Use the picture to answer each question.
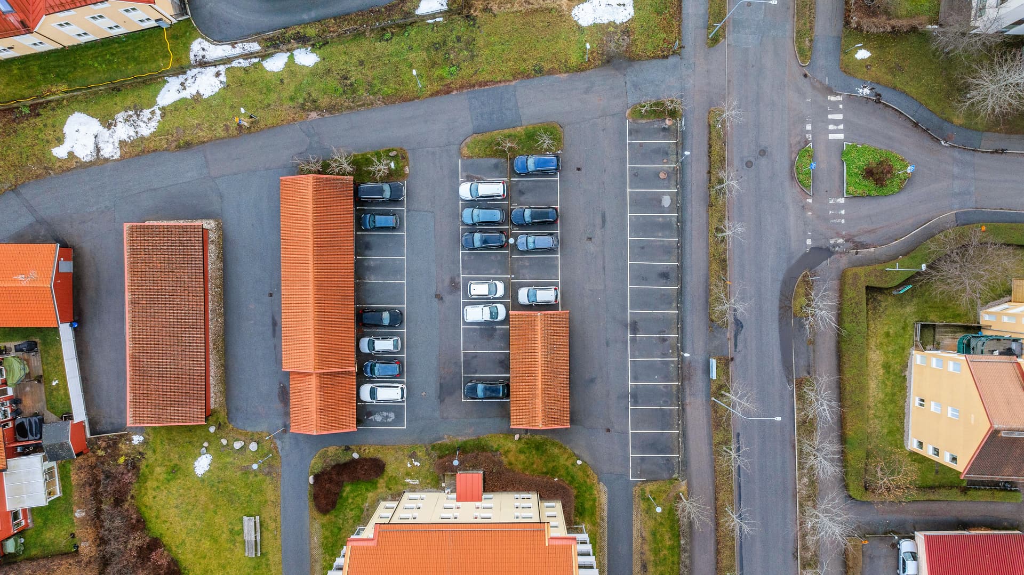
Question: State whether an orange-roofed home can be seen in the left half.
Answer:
Yes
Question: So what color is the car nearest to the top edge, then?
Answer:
blue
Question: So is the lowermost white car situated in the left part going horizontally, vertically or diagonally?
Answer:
horizontally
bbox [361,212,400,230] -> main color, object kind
blue car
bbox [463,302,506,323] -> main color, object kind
white vehicle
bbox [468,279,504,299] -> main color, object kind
white car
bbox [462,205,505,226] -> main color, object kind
blue car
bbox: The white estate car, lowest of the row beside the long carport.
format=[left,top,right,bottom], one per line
[359,383,407,405]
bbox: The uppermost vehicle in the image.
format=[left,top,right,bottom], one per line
[514,152,561,175]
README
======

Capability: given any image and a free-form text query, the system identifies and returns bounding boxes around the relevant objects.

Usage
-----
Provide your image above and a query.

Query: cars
[464,380,511,401]
[358,308,403,329]
[363,359,402,378]
[516,232,559,253]
[511,204,559,226]
[518,285,559,306]
[359,335,401,355]
[357,181,405,203]
[460,179,506,201]
[462,229,507,251]
[468,279,504,299]
[462,205,505,226]
[361,212,400,230]
[359,383,407,405]
[514,152,561,175]
[896,545,922,575]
